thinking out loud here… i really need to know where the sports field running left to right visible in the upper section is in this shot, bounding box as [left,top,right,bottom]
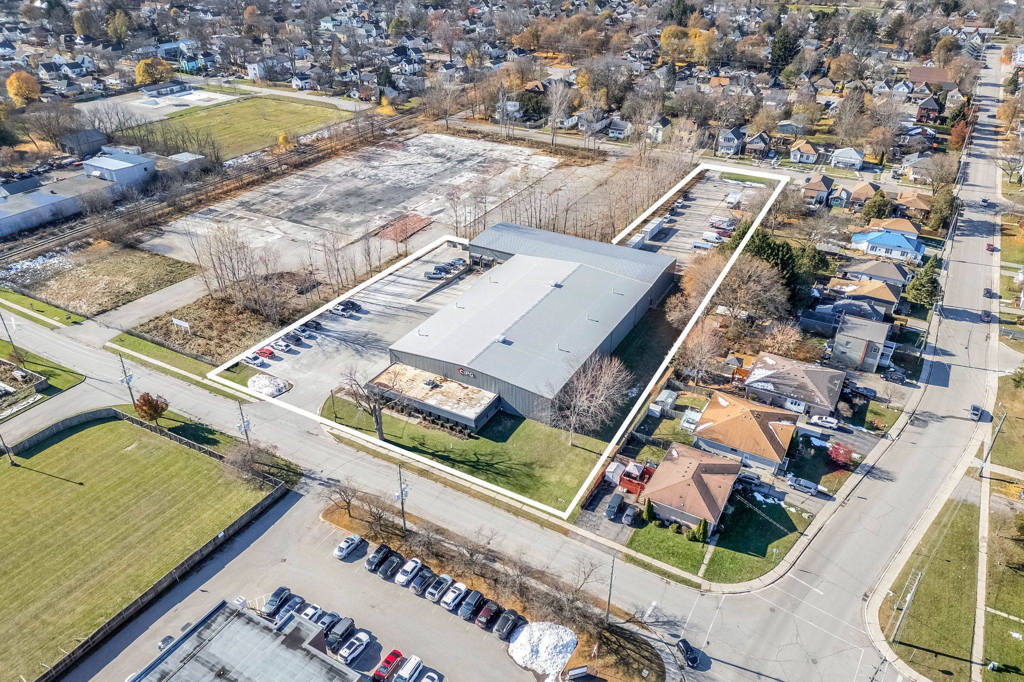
[122,97,351,159]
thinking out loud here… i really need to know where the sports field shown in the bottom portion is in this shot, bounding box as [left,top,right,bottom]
[0,416,272,682]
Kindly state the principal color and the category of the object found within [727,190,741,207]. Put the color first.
white vehicle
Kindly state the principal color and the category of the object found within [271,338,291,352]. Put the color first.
white car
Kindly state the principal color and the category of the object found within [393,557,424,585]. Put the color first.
white car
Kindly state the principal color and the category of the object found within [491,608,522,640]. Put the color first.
gray car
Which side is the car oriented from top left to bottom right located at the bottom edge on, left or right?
right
